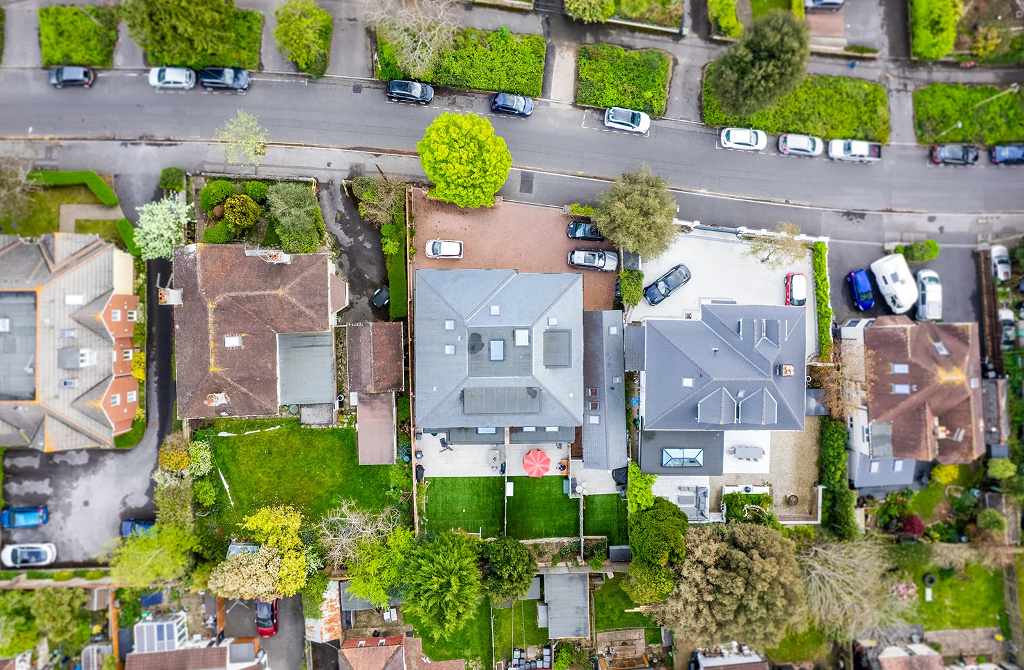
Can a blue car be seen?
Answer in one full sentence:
Yes, the photo shows a blue car.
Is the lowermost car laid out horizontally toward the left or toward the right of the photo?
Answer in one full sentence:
The lowermost car laid out horizontally sits on the left side.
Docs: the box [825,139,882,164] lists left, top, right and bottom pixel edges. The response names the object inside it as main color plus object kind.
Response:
white truck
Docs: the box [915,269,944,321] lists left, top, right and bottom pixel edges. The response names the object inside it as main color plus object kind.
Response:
white truck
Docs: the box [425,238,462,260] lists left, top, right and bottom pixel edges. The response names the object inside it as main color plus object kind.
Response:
white car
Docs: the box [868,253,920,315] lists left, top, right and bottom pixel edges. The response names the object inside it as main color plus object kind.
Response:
white camper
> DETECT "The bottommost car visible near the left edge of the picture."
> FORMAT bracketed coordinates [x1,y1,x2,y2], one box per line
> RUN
[5,544,56,568]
